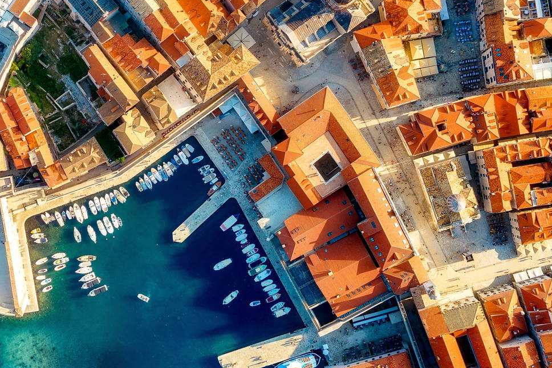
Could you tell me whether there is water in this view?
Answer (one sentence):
Yes, water shows up in the scene.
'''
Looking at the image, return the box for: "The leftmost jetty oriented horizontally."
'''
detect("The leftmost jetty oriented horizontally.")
[217,327,310,368]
